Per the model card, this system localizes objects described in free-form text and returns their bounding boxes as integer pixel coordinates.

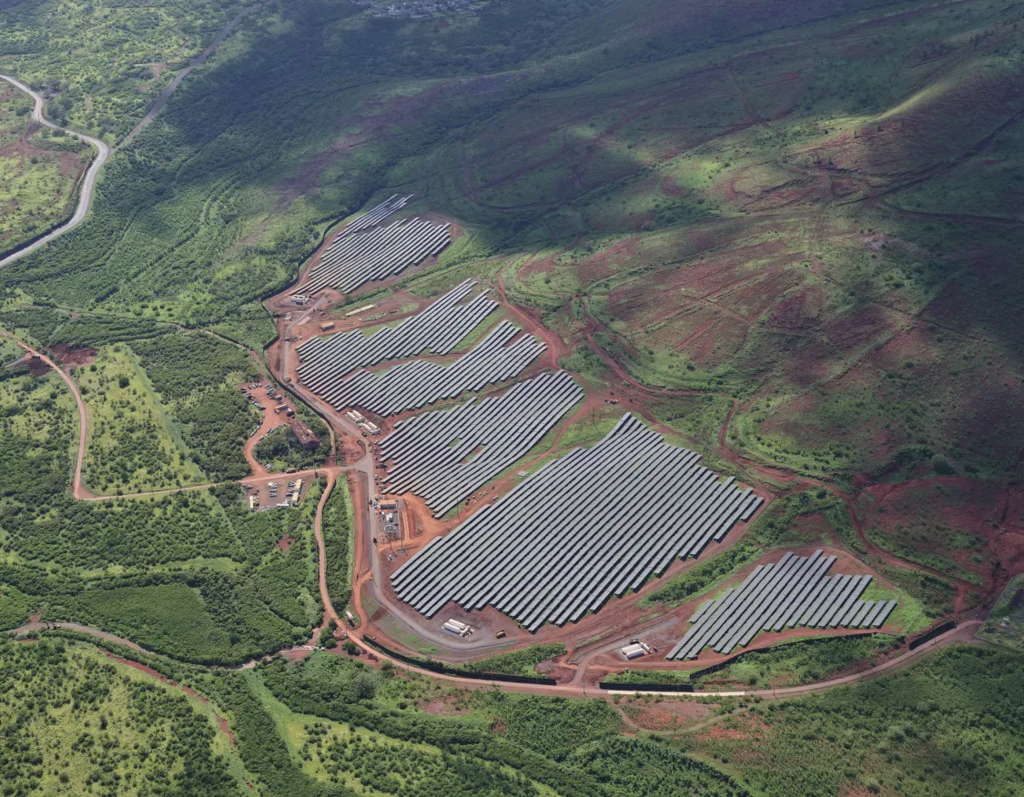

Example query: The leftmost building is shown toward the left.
[286,413,321,445]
